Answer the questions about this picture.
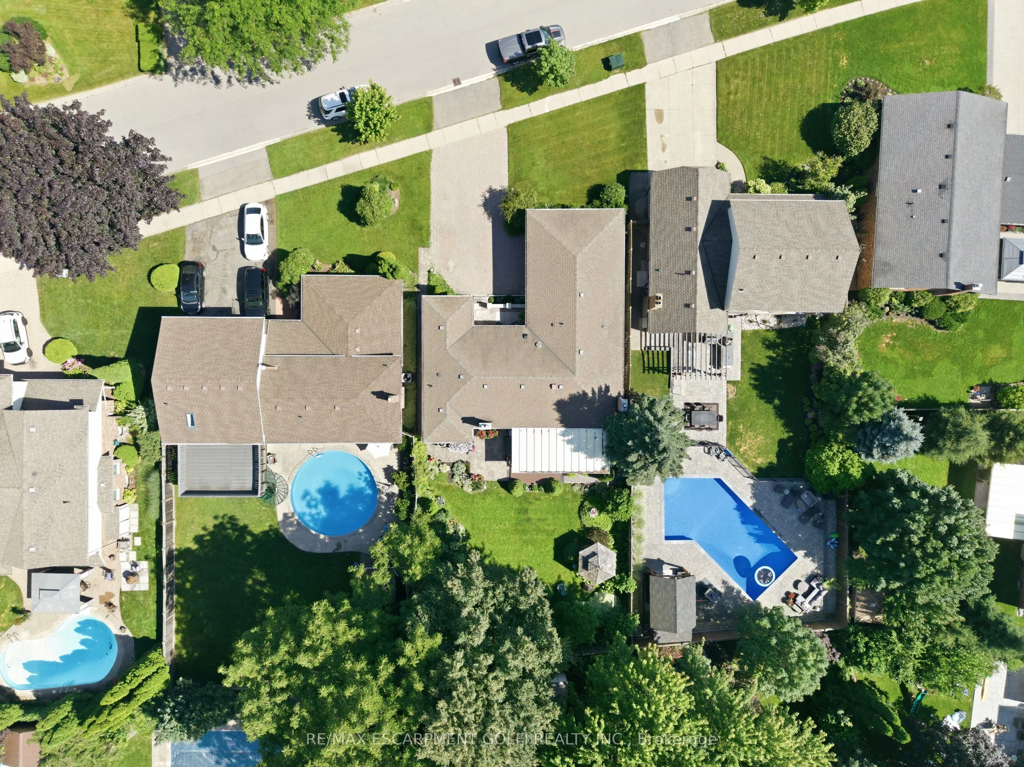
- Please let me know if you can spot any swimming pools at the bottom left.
Yes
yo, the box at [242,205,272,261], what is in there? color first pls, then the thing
white car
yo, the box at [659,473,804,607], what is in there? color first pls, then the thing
blue swimming pool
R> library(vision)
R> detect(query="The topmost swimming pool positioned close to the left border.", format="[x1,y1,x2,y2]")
[0,612,120,693]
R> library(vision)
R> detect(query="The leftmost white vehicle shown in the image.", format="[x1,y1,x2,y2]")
[0,312,36,363]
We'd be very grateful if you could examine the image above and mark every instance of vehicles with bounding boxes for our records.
[497,28,564,69]
[0,312,36,363]
[242,205,272,261]
[320,87,379,125]
[180,264,210,314]
[243,268,273,318]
